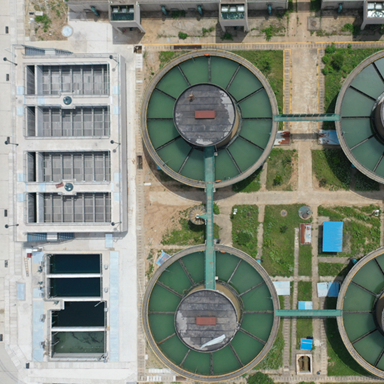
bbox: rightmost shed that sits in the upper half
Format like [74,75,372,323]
[318,129,340,145]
